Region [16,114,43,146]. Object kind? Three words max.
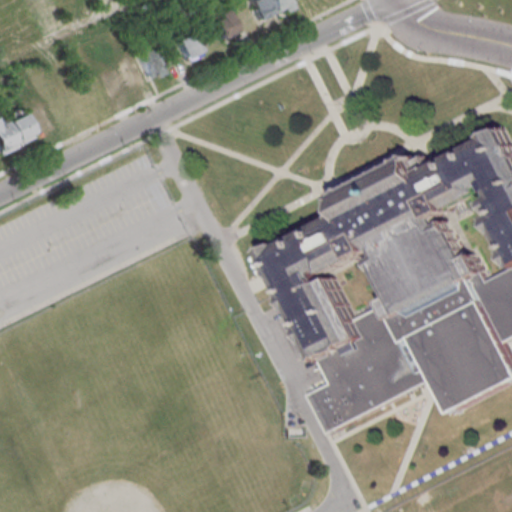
house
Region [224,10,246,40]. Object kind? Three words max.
house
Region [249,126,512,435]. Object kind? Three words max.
building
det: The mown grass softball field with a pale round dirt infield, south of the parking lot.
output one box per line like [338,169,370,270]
[0,243,307,512]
